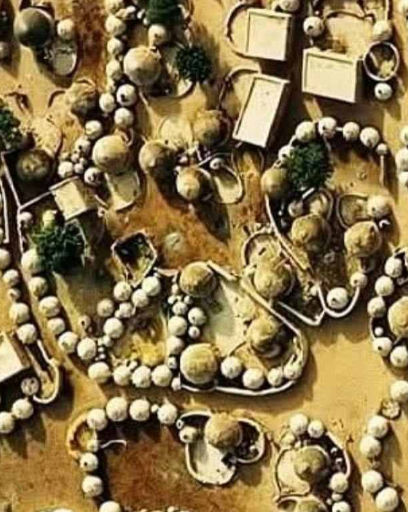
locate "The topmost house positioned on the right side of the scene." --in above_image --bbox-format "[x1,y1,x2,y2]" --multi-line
[245,9,299,60]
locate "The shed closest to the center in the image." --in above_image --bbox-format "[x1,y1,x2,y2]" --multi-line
[180,260,219,297]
